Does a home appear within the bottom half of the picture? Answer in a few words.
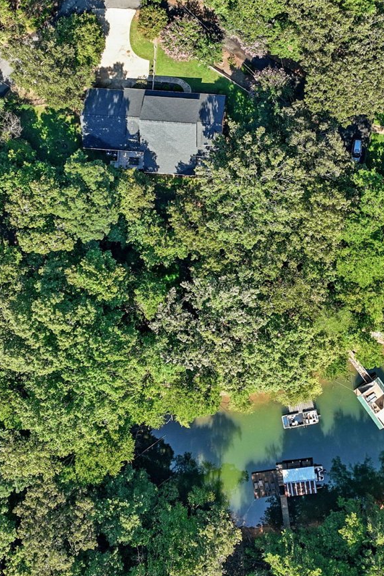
No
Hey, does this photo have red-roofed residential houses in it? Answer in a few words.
No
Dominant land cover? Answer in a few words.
trees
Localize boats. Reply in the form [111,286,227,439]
[314,469,329,480]
[283,410,320,428]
